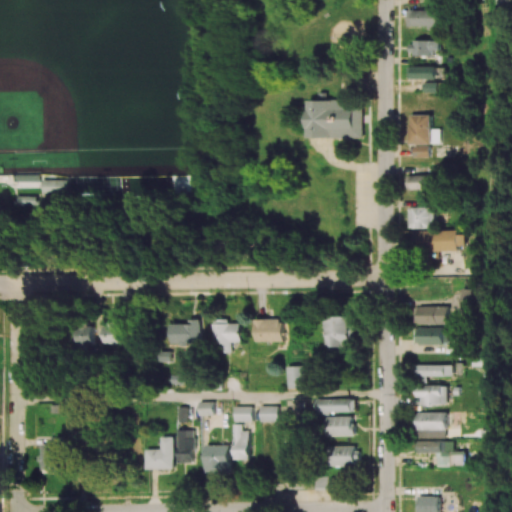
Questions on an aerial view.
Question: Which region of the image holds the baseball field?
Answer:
top left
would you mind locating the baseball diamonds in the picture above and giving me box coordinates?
[0,0,192,176]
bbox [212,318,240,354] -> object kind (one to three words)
house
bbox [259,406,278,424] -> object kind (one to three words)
building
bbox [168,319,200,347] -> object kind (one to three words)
house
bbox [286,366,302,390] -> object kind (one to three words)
building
